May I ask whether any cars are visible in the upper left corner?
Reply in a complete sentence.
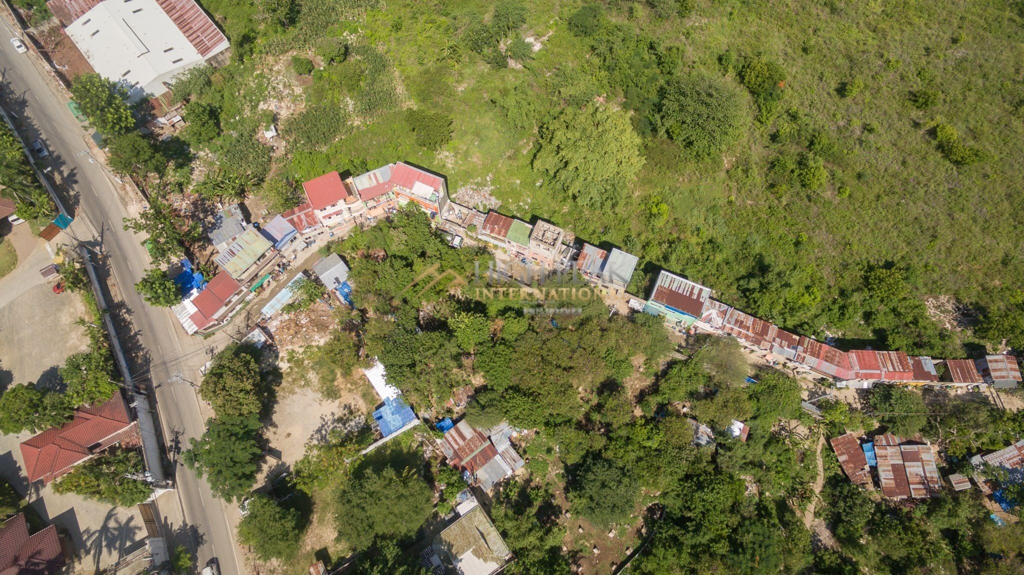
Yes, there is a car in the upper left corner.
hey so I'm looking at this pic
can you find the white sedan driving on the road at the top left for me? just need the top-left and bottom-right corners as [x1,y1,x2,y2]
[10,37,26,55]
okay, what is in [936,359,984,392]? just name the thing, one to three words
house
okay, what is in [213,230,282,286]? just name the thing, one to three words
building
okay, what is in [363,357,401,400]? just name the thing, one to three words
shed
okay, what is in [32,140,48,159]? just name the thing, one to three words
car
